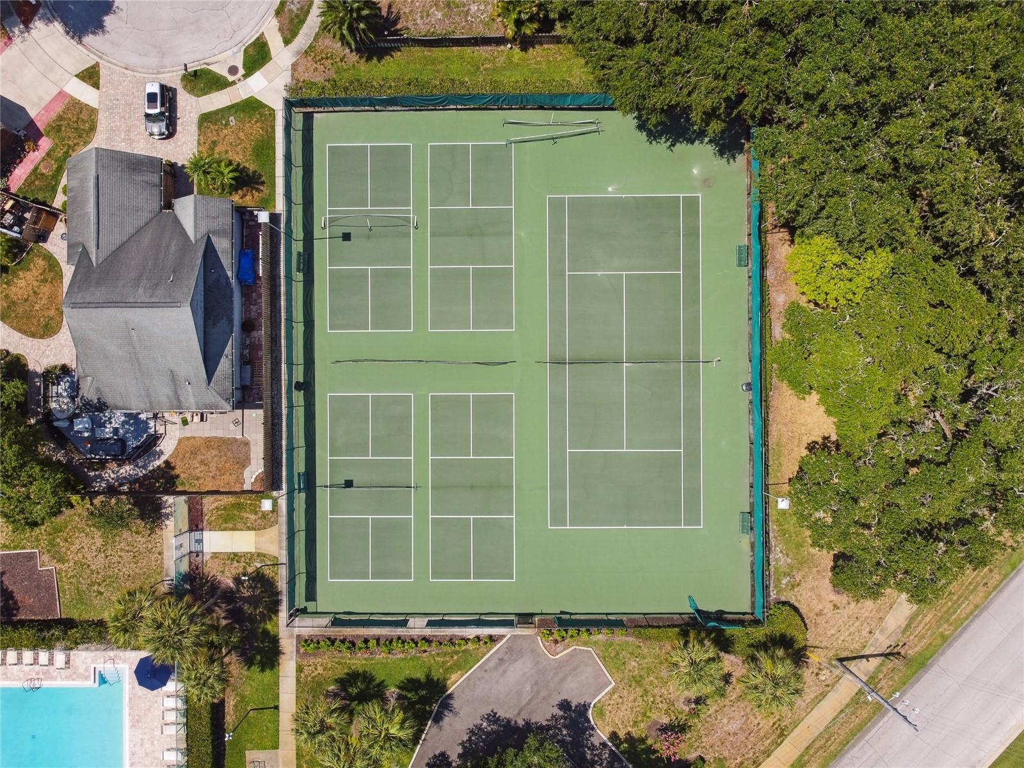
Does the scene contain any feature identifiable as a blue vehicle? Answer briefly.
No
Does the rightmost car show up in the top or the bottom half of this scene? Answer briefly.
top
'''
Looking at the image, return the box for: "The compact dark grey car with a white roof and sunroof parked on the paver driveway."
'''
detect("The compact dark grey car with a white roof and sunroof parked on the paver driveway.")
[140,83,174,141]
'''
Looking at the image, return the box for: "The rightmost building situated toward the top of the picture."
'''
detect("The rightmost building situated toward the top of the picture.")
[63,148,242,412]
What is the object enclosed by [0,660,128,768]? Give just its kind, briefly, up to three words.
swimming pool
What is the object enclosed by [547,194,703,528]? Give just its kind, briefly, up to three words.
tennis court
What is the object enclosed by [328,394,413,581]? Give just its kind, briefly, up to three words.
sports court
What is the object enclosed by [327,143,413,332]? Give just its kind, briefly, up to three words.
sports court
